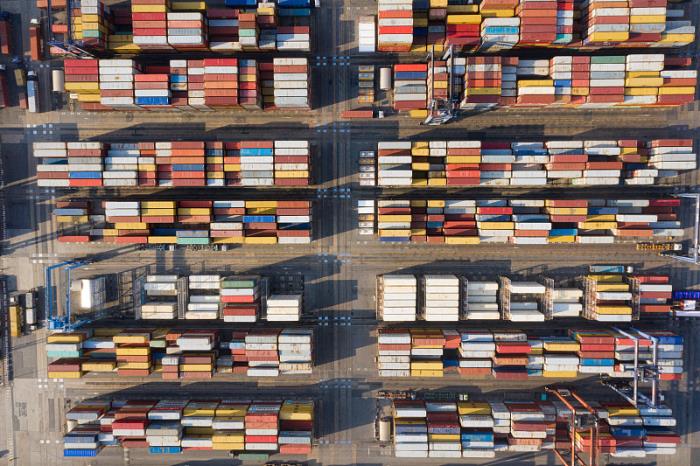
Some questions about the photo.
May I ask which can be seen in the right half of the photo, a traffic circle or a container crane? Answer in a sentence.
It is a container crane that can be seen in the right half of the photo.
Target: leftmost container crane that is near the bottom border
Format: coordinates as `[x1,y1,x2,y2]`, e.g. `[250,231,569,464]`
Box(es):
[546,383,597,466]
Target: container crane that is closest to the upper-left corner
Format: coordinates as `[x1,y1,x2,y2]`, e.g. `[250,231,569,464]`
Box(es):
[42,0,103,60]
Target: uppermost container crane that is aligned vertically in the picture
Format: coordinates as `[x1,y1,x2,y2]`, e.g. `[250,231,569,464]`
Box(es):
[419,45,457,128]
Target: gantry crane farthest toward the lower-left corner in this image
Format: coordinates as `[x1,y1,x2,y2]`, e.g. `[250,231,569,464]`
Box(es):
[44,258,102,336]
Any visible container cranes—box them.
[600,320,659,406]
[44,258,102,336]
[546,383,597,466]
[656,190,700,264]
[419,45,457,128]
[42,0,103,60]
